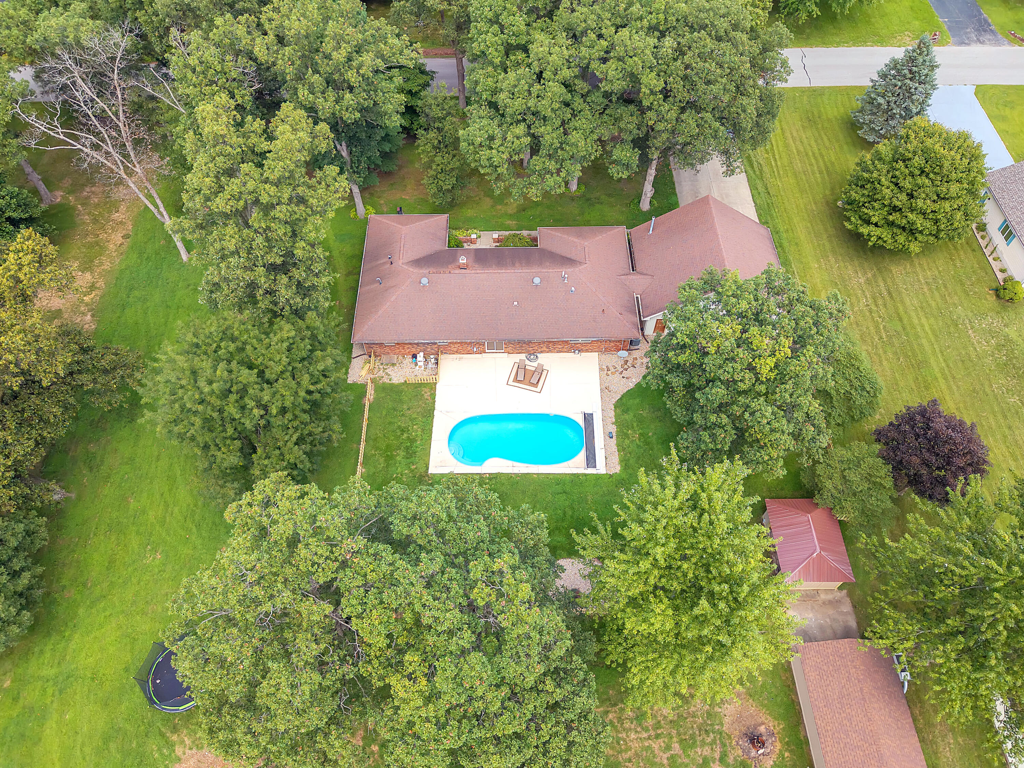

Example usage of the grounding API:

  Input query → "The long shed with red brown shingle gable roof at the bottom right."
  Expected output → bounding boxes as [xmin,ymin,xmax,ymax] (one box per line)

[789,639,924,768]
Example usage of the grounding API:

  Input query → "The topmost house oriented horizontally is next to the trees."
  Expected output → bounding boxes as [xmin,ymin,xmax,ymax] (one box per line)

[349,194,790,359]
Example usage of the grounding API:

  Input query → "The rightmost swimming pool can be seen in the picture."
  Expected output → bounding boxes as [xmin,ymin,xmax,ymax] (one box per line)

[447,412,584,467]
